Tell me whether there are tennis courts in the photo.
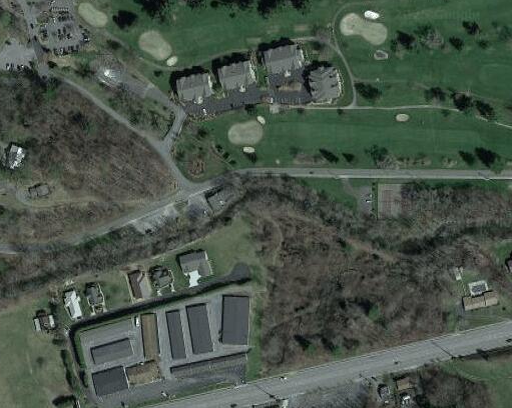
Yes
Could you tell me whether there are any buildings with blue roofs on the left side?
No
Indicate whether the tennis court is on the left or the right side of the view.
right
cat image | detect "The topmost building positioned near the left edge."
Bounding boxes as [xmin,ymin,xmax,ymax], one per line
[6,144,26,170]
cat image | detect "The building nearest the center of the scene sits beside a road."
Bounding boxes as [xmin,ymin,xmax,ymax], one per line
[206,186,235,215]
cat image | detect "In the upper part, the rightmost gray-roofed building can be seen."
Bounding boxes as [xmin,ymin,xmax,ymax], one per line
[309,67,343,102]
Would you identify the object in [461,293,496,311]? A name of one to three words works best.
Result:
house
